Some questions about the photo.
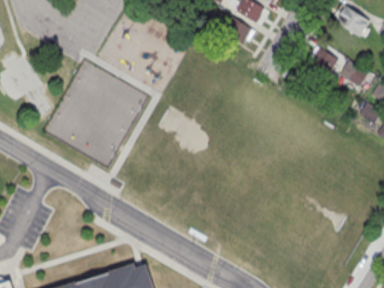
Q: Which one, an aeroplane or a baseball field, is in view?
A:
baseball field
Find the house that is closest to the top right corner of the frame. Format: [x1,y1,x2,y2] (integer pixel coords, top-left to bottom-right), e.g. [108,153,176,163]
[336,6,370,37]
